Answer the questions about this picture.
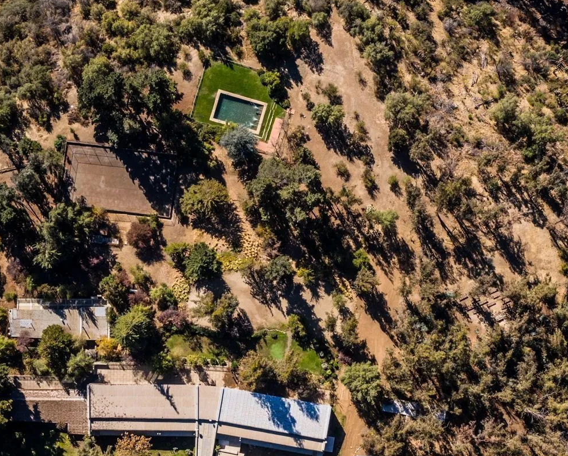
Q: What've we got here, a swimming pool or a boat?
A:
swimming pool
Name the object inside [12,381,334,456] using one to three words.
building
